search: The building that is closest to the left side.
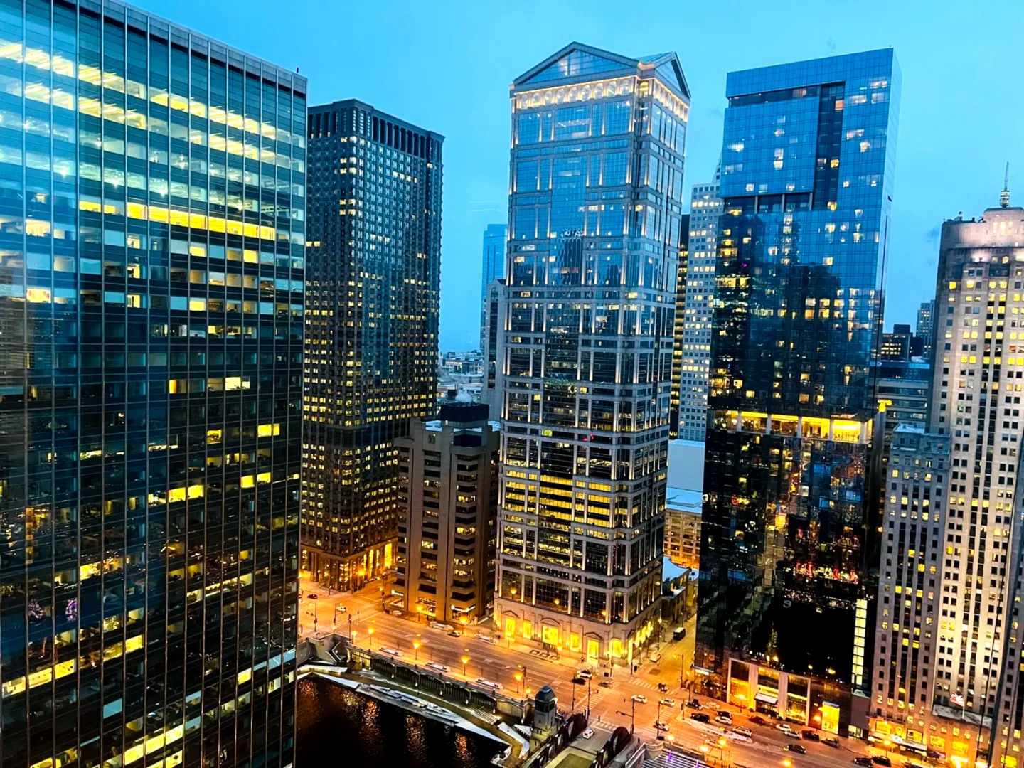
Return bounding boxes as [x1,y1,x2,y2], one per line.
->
[0,0,312,768]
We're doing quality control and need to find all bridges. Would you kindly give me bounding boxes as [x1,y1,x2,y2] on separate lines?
[513,711,647,768]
